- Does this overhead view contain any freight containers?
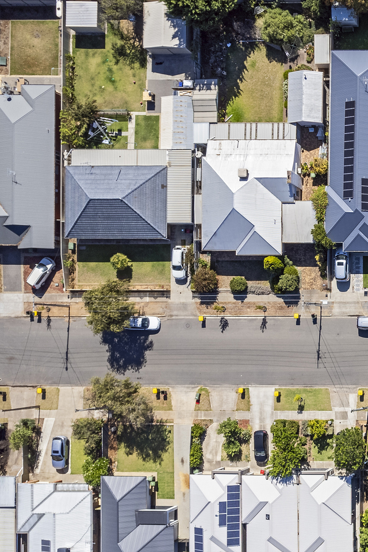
No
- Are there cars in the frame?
Yes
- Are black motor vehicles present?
Yes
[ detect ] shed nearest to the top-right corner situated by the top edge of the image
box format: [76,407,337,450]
[331,7,360,29]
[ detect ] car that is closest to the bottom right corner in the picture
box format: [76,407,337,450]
[252,430,269,466]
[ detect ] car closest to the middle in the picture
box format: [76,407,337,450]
[169,247,188,280]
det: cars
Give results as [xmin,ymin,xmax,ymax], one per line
[252,430,269,466]
[123,315,162,331]
[25,256,57,291]
[332,248,350,281]
[50,435,70,469]
[357,316,368,330]
[169,247,188,280]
